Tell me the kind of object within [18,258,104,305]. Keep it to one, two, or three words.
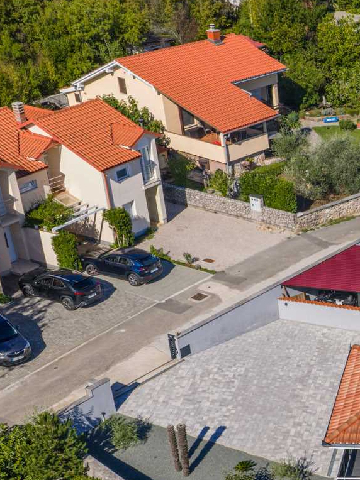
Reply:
car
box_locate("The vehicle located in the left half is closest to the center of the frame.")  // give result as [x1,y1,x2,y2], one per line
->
[84,239,168,283]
